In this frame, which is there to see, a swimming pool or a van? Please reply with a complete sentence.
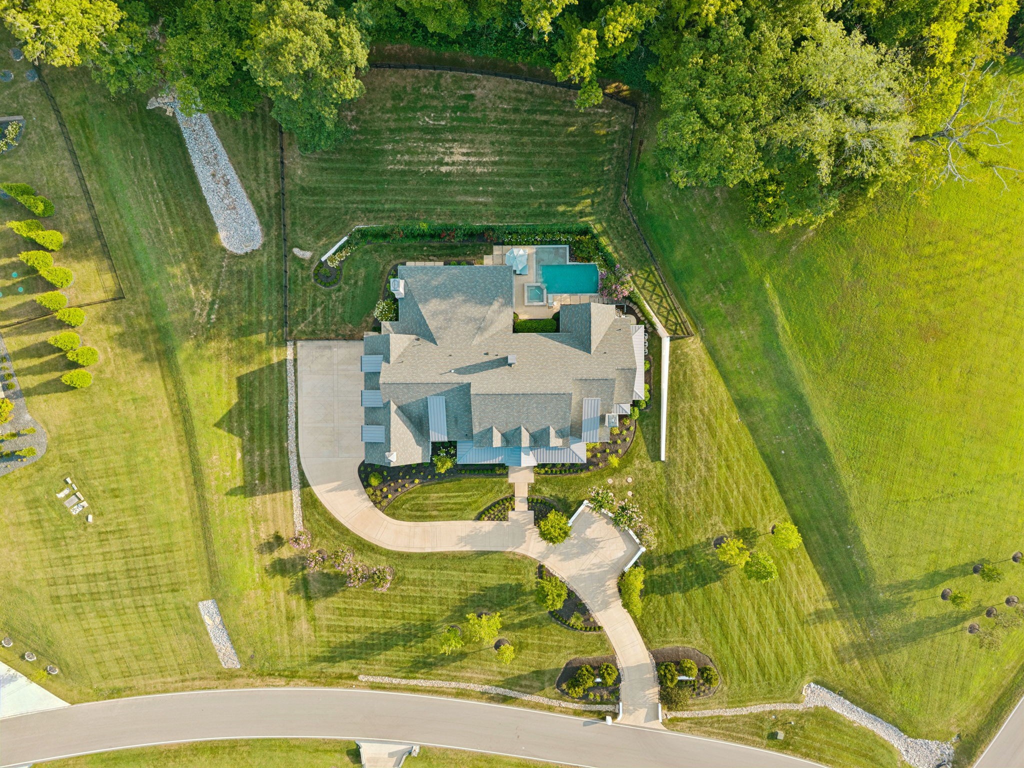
There is a swimming pool in the scene.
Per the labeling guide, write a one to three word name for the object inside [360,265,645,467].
house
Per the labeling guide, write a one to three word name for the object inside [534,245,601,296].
swimming pool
